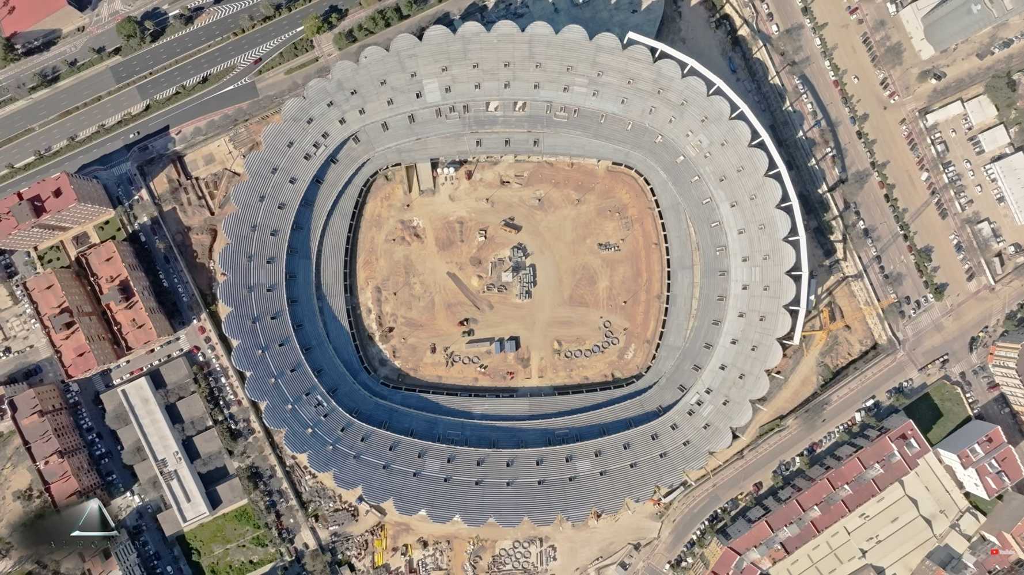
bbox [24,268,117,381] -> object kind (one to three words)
building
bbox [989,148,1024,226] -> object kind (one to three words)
shed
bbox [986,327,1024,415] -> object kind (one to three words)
building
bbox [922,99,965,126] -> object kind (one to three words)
shed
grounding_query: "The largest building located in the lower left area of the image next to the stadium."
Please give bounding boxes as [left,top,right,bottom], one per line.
[100,356,253,536]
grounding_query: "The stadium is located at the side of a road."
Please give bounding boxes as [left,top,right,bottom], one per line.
[216,17,809,532]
